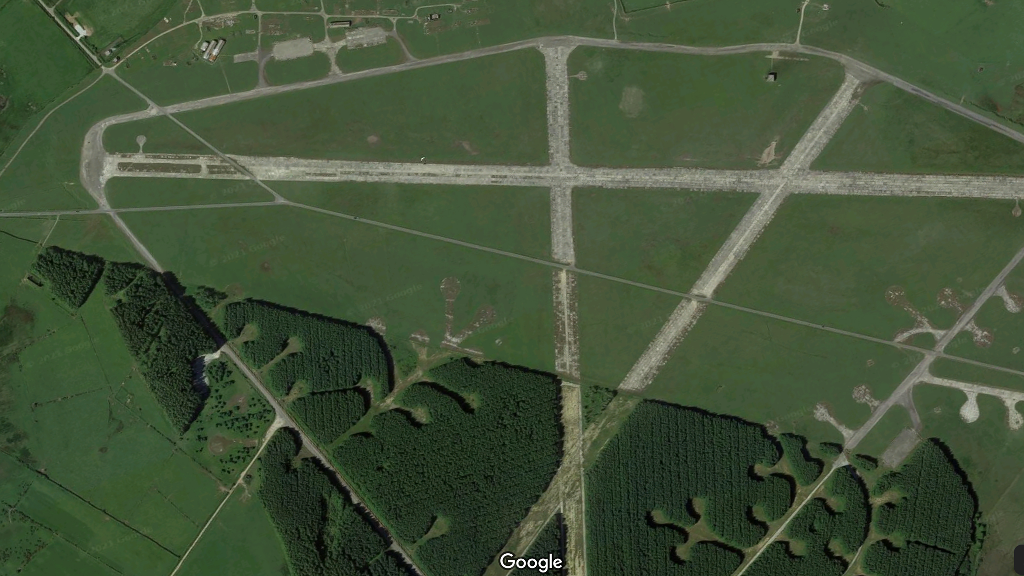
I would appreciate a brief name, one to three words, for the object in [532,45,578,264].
runway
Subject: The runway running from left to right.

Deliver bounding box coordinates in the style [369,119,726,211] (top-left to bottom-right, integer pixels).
[103,153,1024,199]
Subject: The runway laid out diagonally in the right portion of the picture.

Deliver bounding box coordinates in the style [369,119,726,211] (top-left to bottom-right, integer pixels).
[618,55,885,391]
